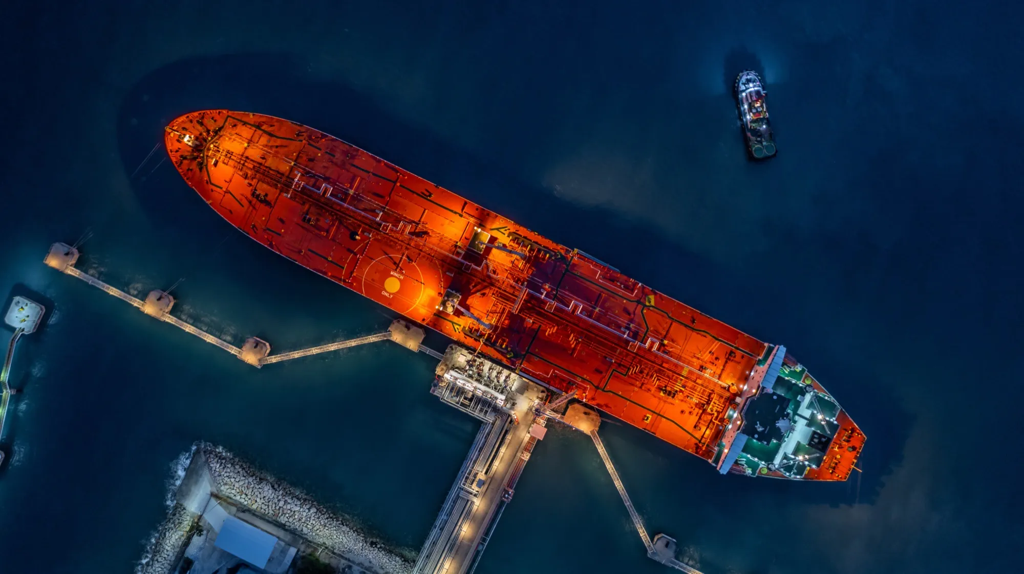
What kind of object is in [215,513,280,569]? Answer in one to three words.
shed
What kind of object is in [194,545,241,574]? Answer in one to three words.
shed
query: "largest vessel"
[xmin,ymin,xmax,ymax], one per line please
[163,109,867,483]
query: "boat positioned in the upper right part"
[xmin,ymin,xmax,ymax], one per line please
[737,69,776,160]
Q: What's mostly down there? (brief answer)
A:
water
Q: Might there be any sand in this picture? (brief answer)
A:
No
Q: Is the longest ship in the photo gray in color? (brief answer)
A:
No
